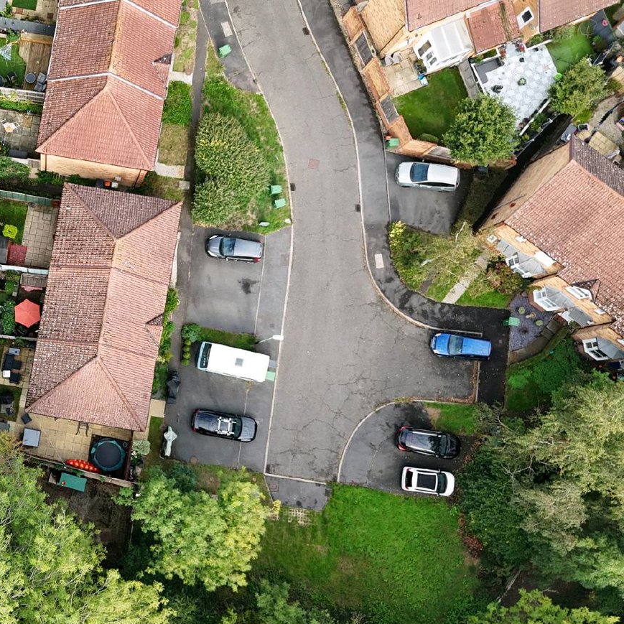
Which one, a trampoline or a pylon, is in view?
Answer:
trampoline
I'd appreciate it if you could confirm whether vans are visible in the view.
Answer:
Yes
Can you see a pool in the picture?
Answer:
No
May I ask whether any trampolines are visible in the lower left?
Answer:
Yes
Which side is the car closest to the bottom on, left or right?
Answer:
right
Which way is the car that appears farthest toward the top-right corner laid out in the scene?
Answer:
from side to side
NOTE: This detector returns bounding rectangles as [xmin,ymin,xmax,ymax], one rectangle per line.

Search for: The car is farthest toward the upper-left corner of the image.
[204,230,265,265]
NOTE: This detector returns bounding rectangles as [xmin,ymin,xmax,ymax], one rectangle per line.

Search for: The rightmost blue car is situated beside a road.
[428,329,495,363]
